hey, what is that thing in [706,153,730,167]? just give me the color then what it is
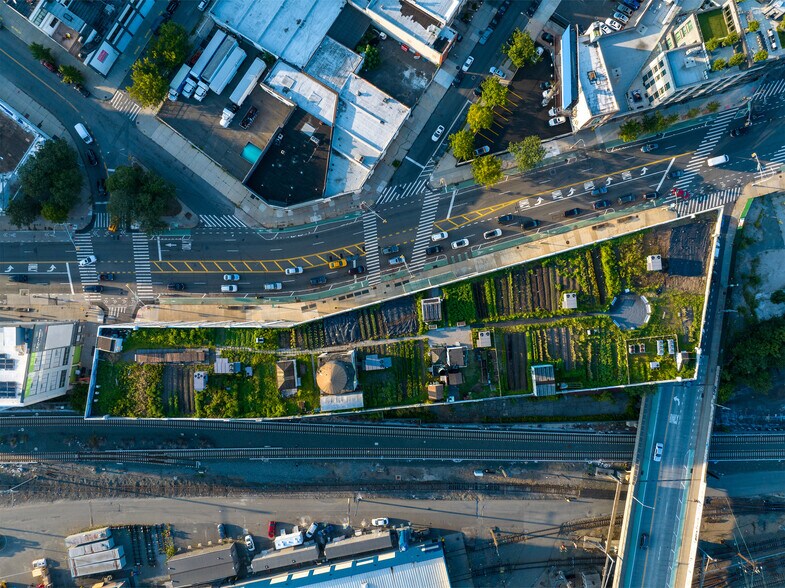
white vehicle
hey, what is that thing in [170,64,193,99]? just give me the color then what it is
blue truck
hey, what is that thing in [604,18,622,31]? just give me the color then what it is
white vehicle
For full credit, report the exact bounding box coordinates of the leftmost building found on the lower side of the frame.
[0,320,80,409]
